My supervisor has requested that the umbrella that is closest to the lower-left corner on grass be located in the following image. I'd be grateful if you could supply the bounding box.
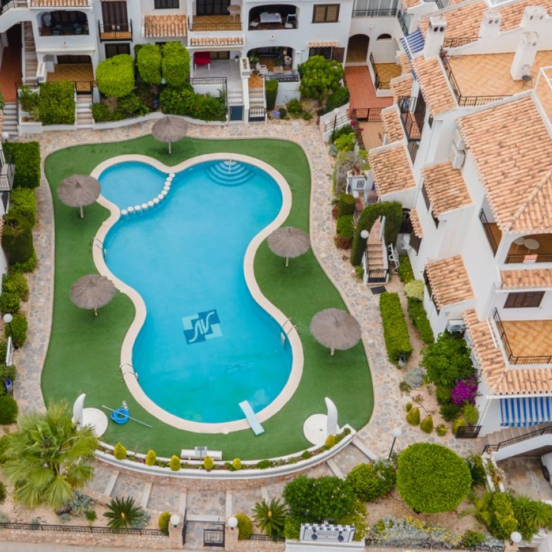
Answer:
[65,266,119,316]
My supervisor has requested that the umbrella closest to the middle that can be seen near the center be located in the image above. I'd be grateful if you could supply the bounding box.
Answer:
[262,219,317,266]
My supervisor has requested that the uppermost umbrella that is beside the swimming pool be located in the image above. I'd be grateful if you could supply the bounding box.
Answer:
[145,110,193,154]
